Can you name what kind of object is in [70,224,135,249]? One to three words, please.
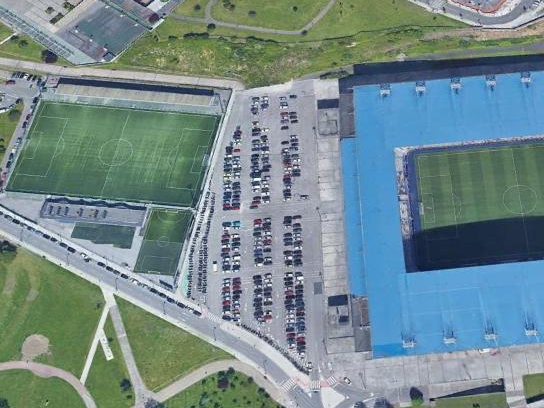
sports court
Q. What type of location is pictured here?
sports ground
